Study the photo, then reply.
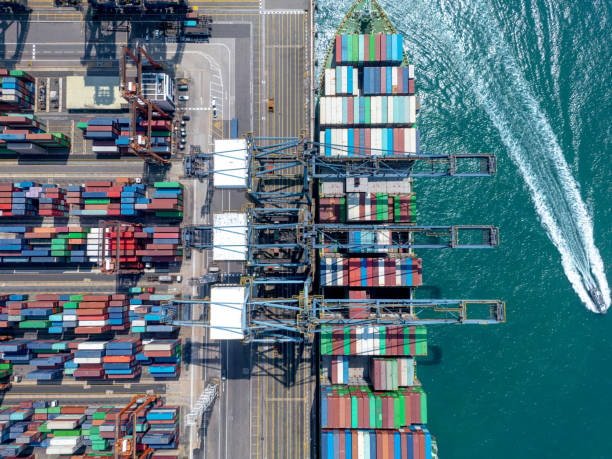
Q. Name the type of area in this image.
port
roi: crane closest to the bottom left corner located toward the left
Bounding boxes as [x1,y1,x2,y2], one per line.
[114,396,159,459]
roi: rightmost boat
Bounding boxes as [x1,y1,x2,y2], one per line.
[589,286,605,310]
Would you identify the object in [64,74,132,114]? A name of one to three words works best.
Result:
shed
